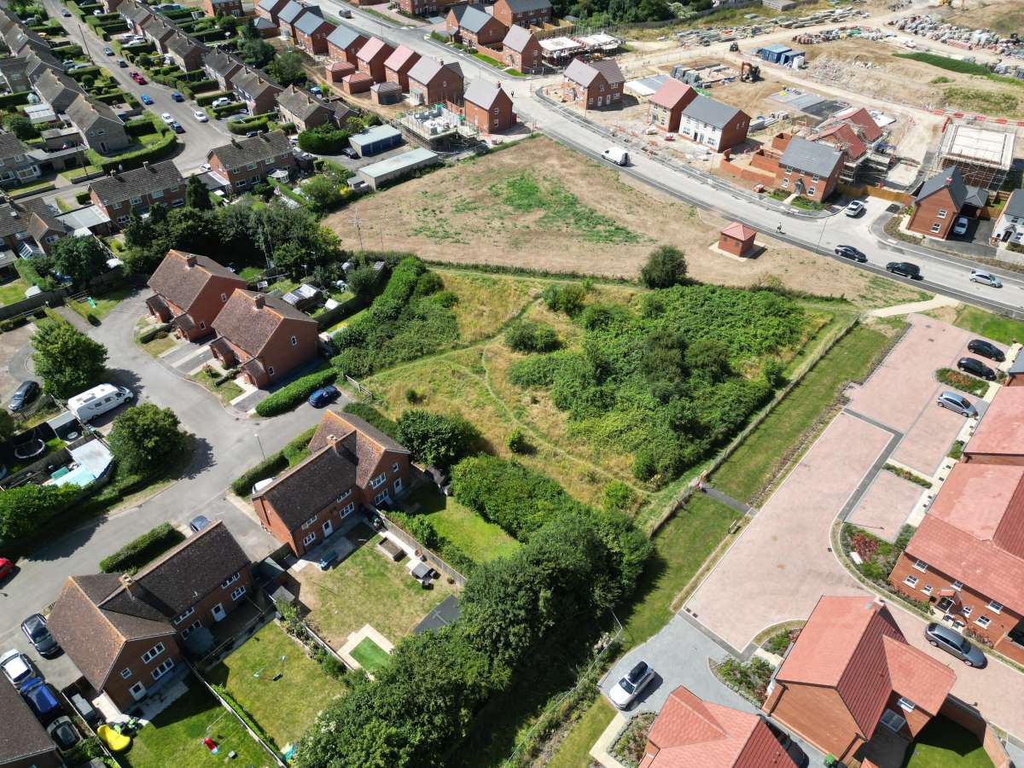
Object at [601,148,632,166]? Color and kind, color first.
white vehicle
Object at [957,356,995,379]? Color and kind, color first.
black car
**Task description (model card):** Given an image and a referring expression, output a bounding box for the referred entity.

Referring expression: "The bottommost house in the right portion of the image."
[640,693,787,768]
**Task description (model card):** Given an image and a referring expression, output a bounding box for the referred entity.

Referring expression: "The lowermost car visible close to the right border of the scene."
[923,622,987,669]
